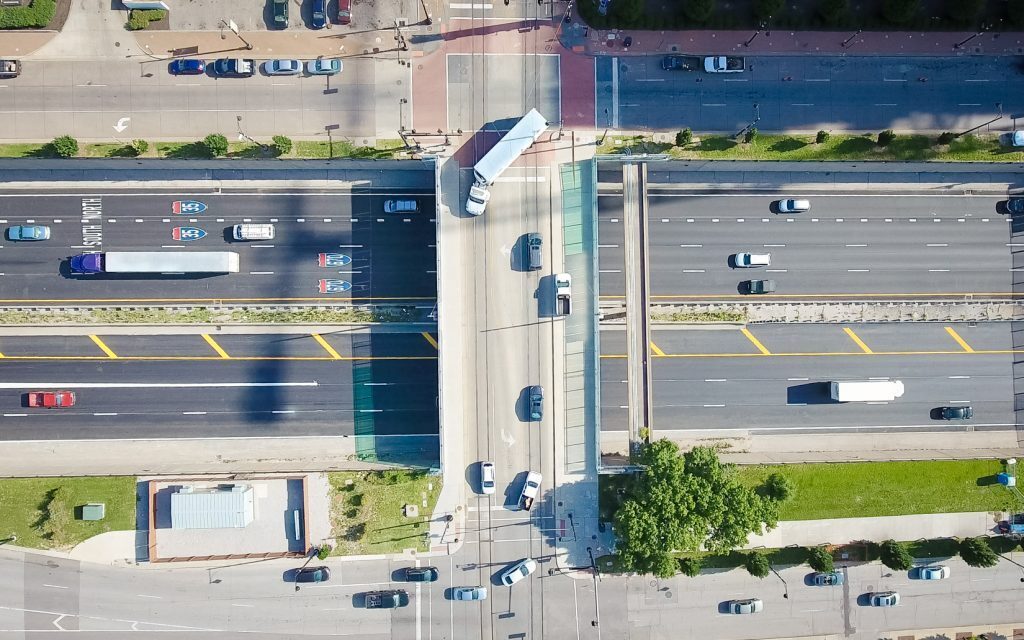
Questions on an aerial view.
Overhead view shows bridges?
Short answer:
Yes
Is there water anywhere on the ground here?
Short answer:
No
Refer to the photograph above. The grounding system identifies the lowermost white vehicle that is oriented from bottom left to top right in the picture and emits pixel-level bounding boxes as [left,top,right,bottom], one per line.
[498,556,538,587]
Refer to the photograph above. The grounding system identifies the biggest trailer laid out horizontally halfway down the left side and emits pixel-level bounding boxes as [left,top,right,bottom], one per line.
[104,251,242,273]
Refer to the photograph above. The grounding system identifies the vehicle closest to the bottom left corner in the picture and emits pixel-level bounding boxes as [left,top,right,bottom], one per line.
[27,390,77,408]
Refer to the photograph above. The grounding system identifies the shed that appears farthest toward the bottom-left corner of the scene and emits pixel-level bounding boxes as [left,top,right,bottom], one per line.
[172,487,252,529]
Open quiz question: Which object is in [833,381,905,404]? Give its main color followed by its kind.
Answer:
white truck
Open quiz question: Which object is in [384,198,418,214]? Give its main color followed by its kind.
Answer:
blue car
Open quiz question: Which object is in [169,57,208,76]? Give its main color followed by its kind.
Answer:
blue car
